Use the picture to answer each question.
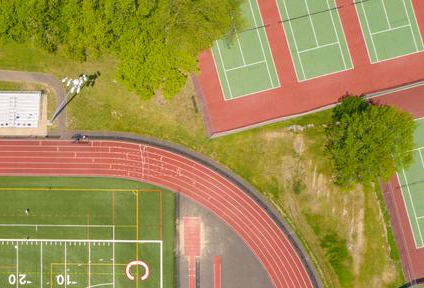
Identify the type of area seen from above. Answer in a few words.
sports ground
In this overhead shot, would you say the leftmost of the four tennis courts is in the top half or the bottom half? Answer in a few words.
top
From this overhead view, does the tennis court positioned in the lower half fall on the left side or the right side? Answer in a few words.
right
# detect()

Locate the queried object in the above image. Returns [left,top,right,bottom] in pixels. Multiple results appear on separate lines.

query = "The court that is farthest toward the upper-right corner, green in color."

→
[351,0,424,64]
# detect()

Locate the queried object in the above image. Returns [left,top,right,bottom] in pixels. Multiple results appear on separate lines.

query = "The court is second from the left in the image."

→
[277,0,355,82]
